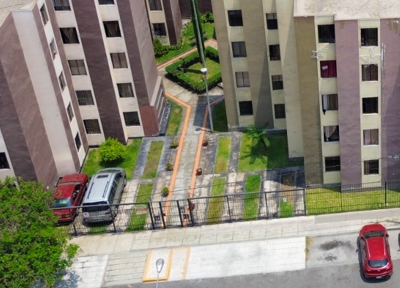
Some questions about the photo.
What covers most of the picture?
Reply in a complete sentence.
Most of the picture is covered by buildings.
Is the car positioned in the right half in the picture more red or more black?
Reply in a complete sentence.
From above, the car positioned in the right half appears red.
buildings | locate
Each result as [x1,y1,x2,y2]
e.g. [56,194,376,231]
[212,0,400,192]
[0,0,184,215]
